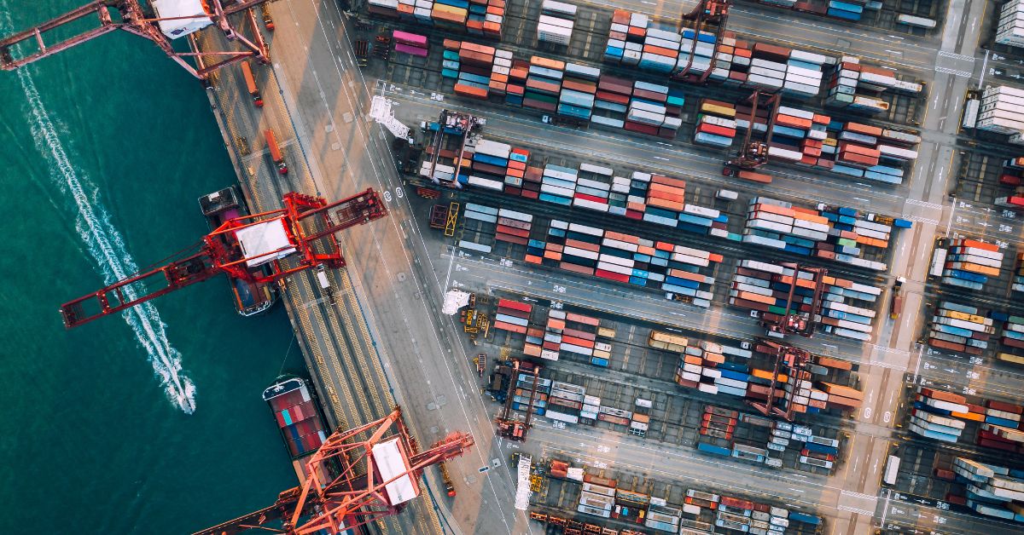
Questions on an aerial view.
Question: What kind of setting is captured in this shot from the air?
port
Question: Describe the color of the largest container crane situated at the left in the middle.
red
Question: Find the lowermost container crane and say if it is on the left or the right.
left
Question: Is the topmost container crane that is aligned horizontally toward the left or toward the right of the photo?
left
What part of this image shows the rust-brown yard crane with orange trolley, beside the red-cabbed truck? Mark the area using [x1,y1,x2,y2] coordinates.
[724,88,786,173]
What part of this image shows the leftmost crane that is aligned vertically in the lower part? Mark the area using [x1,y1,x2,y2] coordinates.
[498,354,545,434]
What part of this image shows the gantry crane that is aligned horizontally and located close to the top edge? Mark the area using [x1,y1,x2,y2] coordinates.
[0,0,278,92]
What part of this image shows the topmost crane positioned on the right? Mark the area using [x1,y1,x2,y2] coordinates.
[674,0,733,82]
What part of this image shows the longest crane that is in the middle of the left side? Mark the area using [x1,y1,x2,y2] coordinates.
[58,187,391,329]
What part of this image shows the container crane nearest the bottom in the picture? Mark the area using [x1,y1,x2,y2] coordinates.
[187,396,475,535]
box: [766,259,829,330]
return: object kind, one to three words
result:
crane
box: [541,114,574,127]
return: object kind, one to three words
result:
vehicle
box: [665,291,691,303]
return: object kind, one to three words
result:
vehicle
